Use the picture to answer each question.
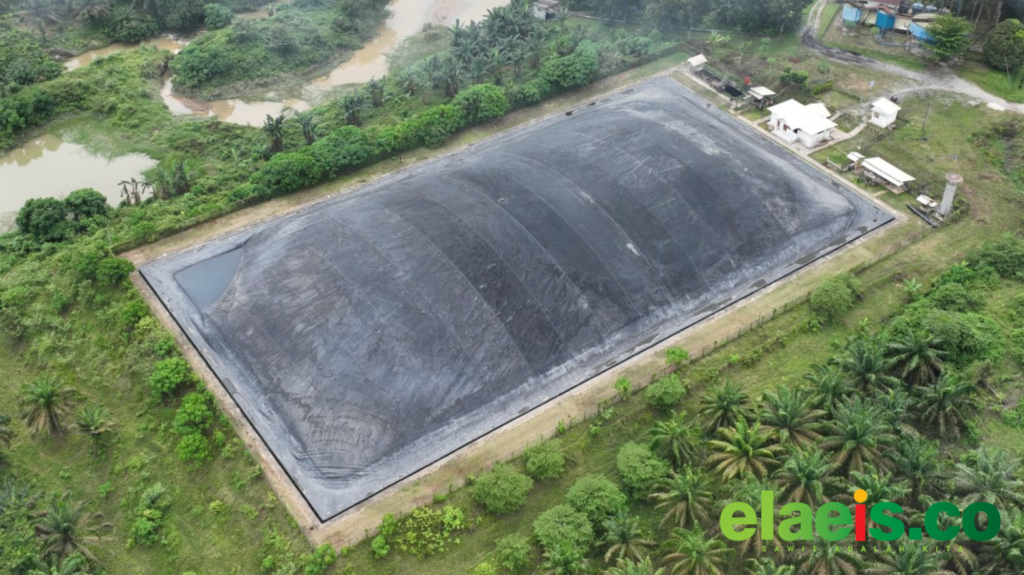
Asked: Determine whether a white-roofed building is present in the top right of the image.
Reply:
Yes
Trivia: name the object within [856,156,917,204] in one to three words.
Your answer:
shed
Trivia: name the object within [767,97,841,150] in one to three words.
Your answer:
house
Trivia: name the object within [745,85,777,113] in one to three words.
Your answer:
shed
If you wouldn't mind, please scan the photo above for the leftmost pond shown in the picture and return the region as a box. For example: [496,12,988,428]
[0,135,152,238]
